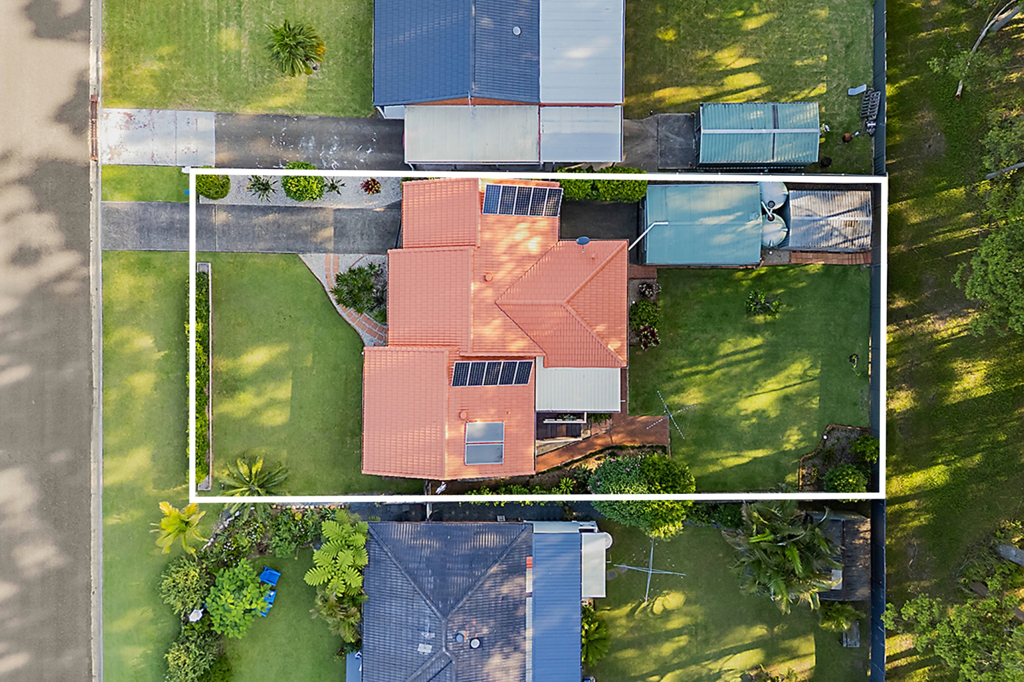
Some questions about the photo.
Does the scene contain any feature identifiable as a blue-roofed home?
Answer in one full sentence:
Yes, the image includes a blue-roofed home.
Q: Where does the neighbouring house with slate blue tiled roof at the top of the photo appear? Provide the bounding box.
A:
[371,0,540,107]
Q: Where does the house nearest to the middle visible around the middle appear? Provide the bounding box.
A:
[360,175,630,480]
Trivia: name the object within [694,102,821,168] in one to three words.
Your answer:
shed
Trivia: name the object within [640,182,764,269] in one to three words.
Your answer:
shed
